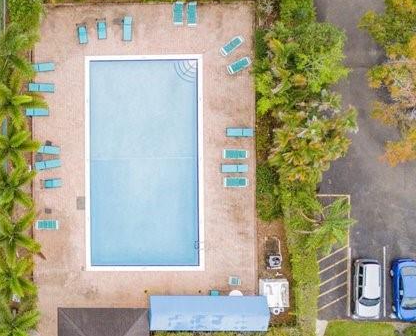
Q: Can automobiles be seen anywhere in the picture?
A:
Yes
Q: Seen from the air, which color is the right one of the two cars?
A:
blue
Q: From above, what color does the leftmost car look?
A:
white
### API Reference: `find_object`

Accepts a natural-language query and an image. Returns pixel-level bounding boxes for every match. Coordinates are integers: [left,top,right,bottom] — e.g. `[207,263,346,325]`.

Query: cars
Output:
[352,259,386,321]
[389,259,416,323]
